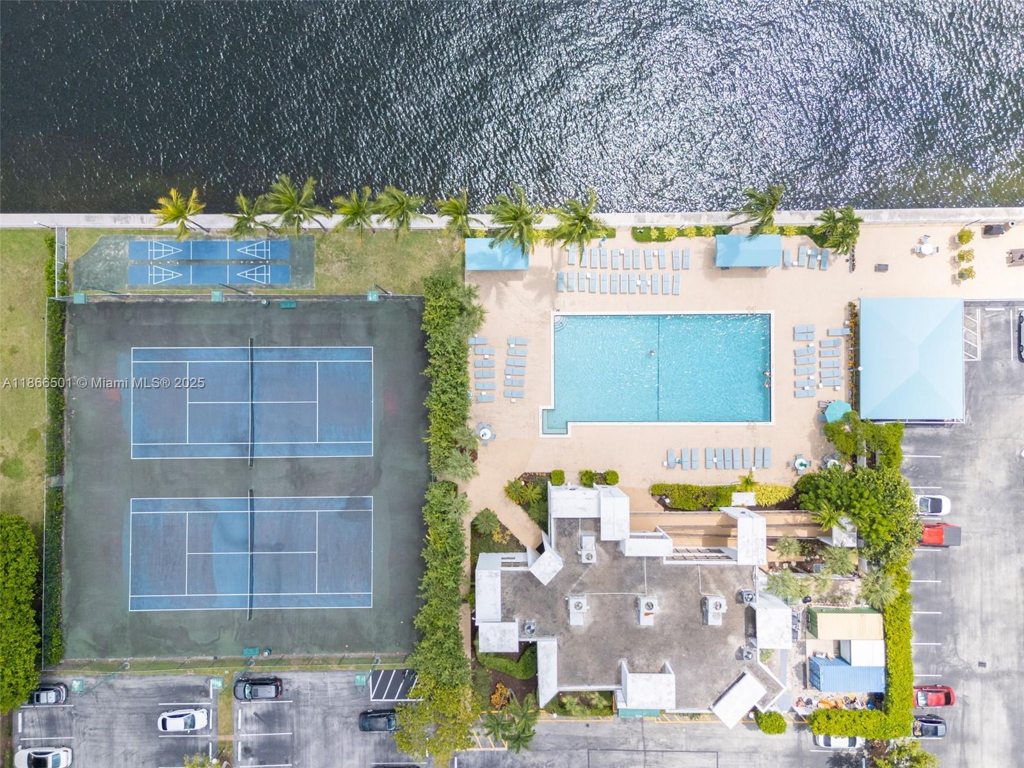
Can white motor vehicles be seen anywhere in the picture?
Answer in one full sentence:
Yes, I can see a white motor vehicle in this picture.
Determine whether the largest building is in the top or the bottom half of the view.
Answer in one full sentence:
It is in the bottom half that the largest building appears.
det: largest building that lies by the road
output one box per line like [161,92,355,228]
[475,483,856,730]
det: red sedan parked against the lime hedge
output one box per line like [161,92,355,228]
[910,683,955,707]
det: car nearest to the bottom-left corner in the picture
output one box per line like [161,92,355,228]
[20,745,74,768]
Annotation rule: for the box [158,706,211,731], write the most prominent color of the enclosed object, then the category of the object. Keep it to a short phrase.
white car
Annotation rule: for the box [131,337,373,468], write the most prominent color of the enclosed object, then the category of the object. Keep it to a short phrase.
blue tennis court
